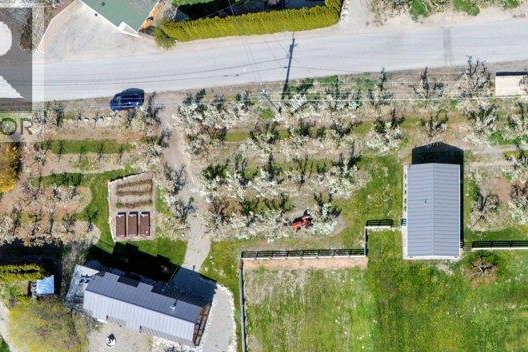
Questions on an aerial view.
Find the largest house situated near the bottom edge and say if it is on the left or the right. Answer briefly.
left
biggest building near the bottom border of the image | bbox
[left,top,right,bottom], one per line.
[79,272,218,350]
